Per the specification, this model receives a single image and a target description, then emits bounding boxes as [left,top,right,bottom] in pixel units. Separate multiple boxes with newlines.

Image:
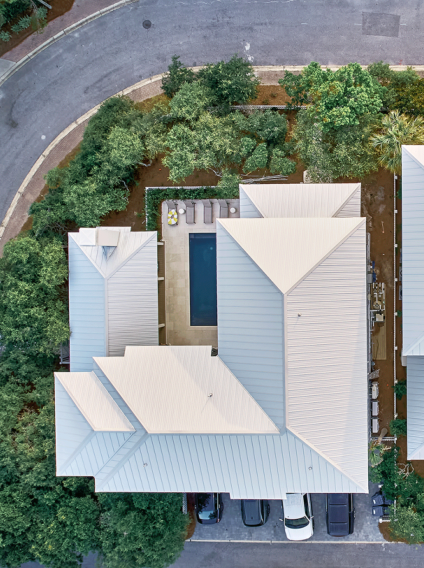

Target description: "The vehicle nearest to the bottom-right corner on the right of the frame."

[325,493,356,539]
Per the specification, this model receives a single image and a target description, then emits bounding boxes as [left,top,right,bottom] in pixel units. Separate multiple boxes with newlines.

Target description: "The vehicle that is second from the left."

[240,500,271,527]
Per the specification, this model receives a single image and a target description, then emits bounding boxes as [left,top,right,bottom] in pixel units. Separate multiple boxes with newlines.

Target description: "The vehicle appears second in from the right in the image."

[280,493,315,540]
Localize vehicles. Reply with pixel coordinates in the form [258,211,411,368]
[325,493,356,539]
[280,493,315,540]
[192,493,222,525]
[240,500,271,527]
